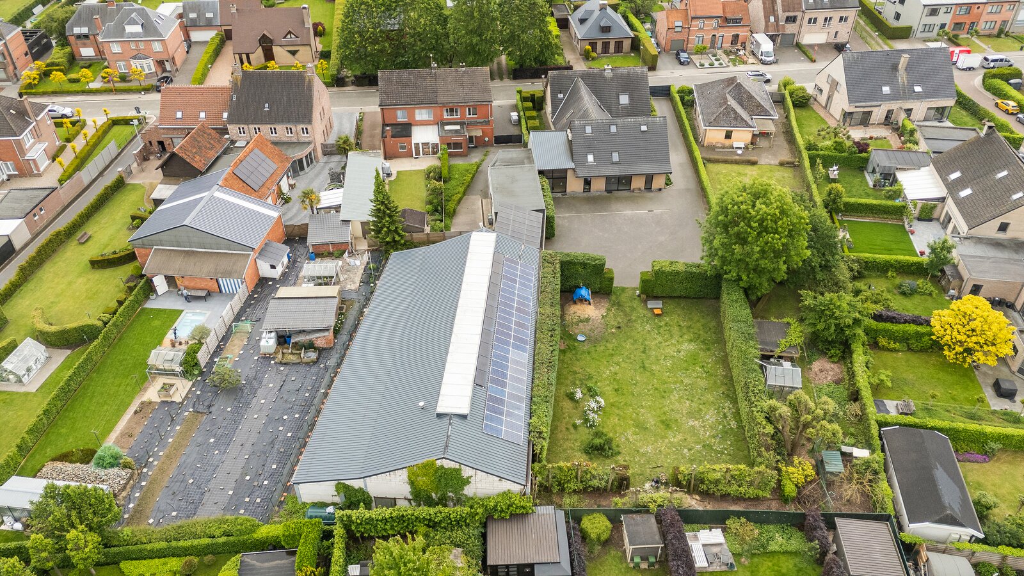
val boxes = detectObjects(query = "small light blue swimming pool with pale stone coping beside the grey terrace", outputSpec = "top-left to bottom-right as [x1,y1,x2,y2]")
[169,309,212,340]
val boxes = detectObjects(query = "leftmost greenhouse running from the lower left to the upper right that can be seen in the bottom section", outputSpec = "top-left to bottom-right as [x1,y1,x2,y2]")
[0,336,66,392]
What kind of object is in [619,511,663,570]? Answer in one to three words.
shed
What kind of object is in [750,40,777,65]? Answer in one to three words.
truck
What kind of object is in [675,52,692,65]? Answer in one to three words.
vehicle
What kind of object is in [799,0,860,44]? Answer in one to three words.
house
